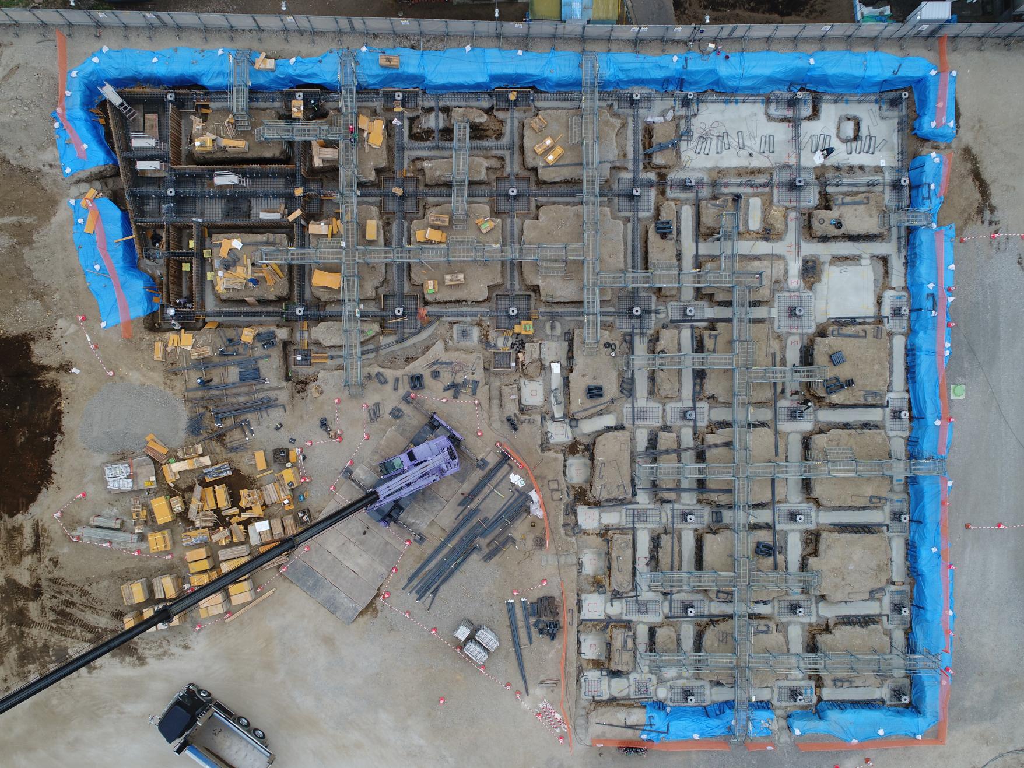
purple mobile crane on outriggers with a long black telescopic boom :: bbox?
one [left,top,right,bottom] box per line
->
[0,395,487,711]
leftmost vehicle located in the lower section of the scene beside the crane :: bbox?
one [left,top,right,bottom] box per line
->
[149,678,280,768]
